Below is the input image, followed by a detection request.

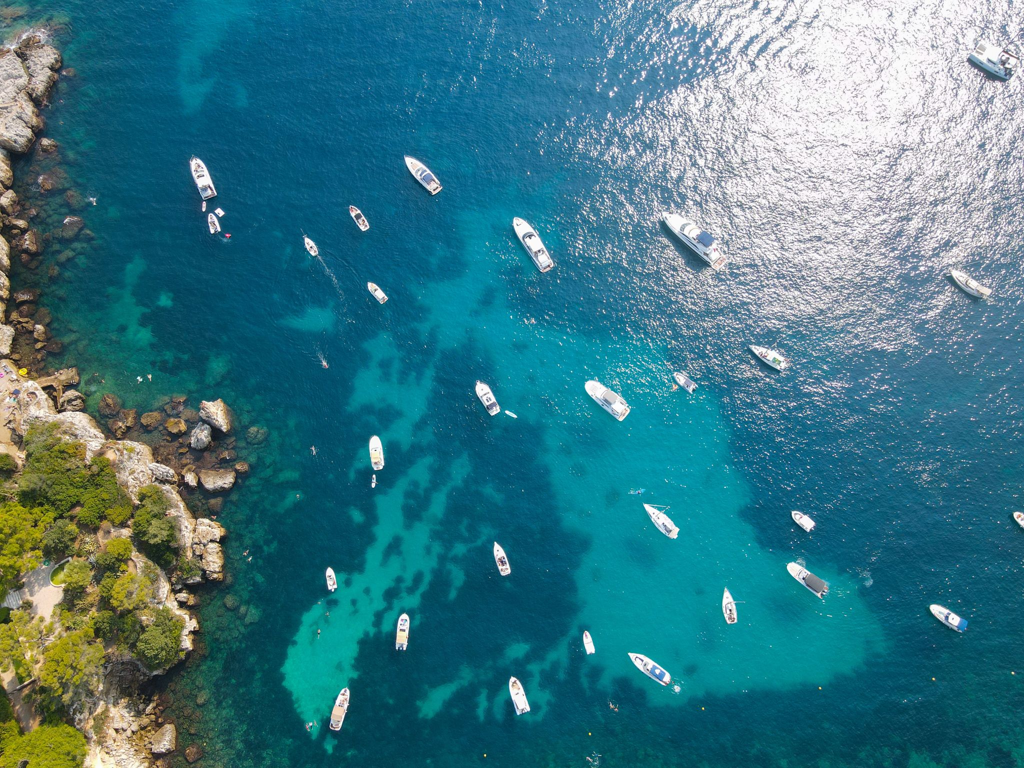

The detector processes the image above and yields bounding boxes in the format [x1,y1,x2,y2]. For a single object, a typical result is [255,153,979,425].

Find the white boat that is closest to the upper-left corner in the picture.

[190,155,218,203]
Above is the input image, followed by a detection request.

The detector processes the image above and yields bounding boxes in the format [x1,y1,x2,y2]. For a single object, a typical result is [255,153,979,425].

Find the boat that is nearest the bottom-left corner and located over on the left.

[329,688,350,730]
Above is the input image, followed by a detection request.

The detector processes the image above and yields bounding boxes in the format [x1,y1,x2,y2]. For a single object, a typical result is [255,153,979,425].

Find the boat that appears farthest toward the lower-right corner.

[927,604,970,637]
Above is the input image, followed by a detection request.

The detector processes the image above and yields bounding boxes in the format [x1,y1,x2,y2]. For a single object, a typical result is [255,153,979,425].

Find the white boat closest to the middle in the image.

[475,380,502,418]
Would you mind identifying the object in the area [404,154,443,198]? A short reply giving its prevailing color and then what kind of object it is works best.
white boat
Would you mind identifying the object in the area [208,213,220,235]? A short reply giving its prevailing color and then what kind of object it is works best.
white boat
